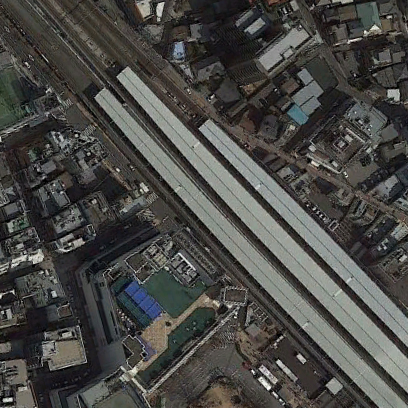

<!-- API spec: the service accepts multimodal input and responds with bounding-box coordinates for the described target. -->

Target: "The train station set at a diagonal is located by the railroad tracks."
[91,67,408,408]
